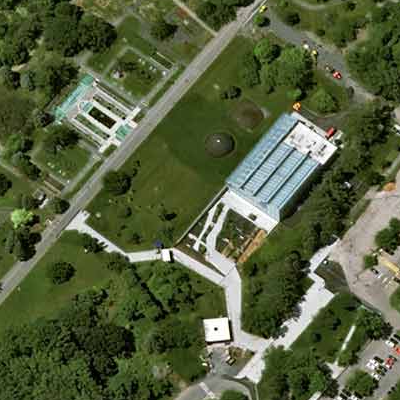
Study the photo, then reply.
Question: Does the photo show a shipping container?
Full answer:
No, the photo shows no shipping container.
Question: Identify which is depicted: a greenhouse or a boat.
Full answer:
Visible in the photo is a greenhouse.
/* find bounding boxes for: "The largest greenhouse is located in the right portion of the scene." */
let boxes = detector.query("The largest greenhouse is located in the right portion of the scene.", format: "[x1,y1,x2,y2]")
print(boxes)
[221,109,337,232]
